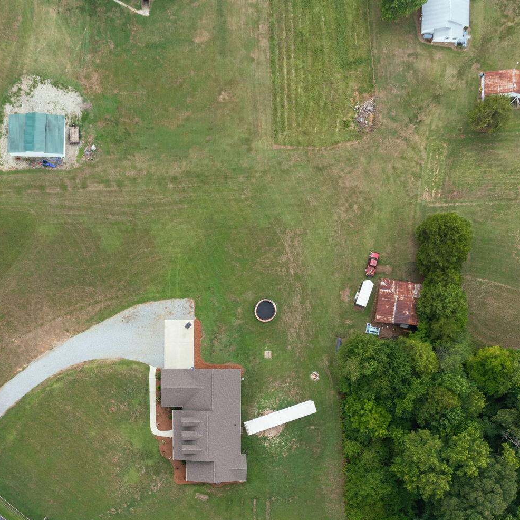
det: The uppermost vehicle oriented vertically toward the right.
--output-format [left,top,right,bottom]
[365,252,380,278]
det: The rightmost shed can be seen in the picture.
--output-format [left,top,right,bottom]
[482,69,520,101]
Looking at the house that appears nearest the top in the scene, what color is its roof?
white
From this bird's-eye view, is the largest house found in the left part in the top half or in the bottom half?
bottom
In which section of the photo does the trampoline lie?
center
